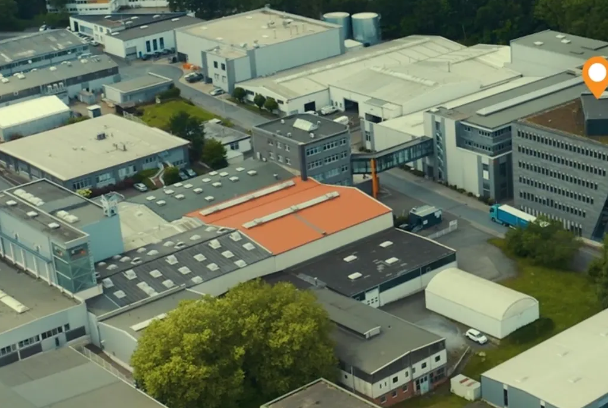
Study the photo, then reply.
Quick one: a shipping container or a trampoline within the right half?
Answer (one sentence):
What appears within the right half is a shipping container.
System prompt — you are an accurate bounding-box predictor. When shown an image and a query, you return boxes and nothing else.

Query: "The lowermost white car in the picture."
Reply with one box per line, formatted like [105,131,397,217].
[463,328,489,343]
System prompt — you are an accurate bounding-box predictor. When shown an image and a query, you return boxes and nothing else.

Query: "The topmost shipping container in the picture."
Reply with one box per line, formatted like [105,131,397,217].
[402,202,445,227]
